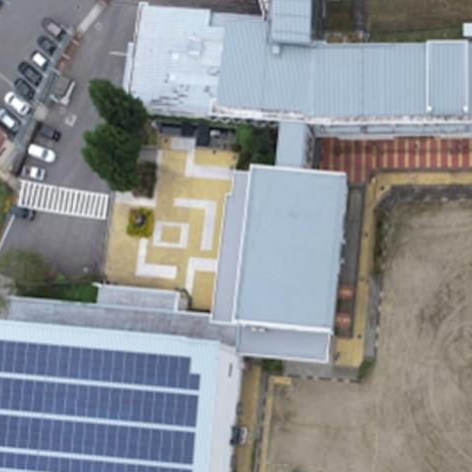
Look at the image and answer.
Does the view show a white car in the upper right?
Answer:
No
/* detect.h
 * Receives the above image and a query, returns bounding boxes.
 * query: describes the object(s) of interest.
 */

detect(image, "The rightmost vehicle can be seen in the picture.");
[235,430,253,443]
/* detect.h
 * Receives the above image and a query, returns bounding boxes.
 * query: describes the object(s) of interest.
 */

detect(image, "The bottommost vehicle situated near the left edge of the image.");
[7,205,42,224]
